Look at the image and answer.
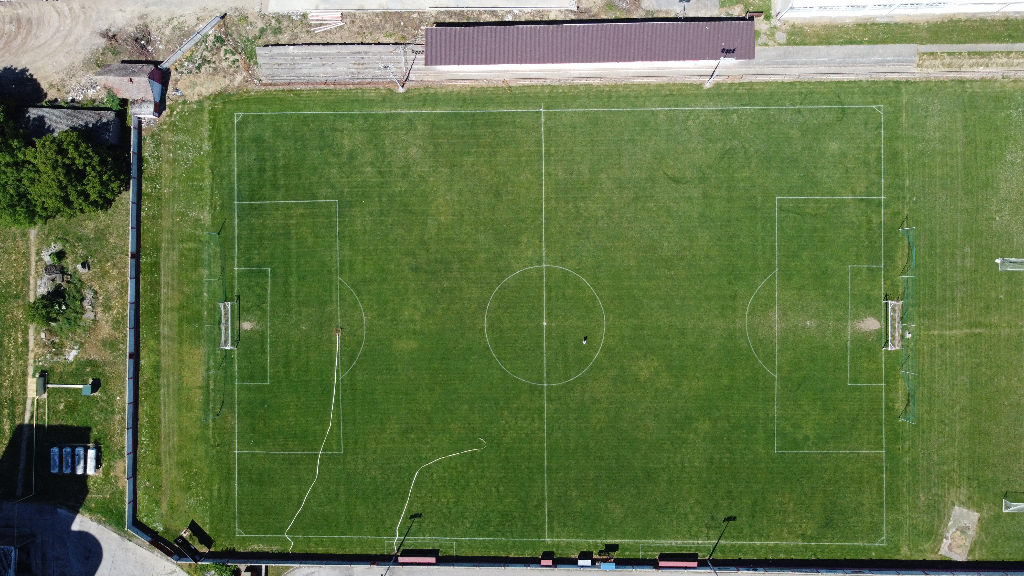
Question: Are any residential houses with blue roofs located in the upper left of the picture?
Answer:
No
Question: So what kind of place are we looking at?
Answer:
sports ground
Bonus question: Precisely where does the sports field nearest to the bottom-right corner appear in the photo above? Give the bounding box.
[903,88,1024,555]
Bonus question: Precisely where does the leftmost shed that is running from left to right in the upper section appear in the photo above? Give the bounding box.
[23,108,124,147]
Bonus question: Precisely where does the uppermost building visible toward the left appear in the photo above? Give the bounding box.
[94,64,163,103]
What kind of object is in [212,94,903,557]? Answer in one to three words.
soccer field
